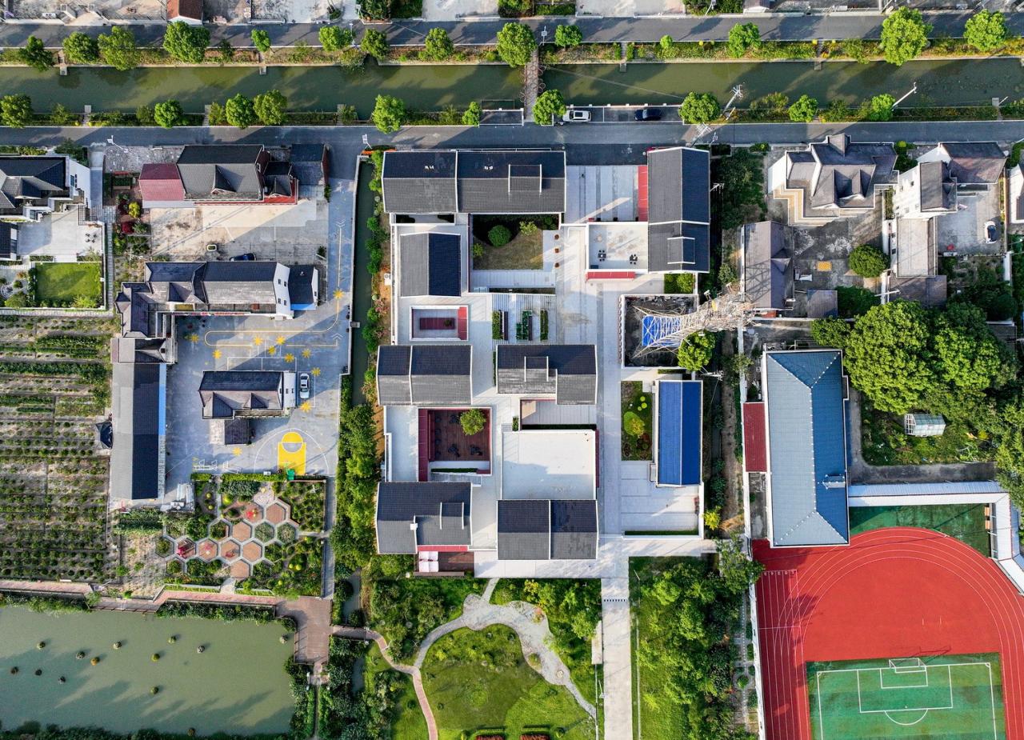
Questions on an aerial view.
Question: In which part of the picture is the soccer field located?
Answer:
bottom right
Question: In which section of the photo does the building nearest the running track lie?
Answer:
right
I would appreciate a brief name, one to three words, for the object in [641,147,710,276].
building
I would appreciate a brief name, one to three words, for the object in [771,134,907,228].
house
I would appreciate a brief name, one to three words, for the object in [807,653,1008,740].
soccer field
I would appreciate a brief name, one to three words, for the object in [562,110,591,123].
vehicle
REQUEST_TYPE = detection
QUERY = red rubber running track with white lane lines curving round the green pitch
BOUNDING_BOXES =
[752,526,1024,740]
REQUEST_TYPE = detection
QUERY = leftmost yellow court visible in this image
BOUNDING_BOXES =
[278,432,306,475]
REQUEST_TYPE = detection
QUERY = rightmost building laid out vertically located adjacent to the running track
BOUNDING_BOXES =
[758,348,851,548]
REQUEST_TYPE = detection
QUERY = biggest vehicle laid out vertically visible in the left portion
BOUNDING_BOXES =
[297,372,311,400]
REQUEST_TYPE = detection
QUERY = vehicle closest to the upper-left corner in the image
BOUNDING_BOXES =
[229,250,258,262]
